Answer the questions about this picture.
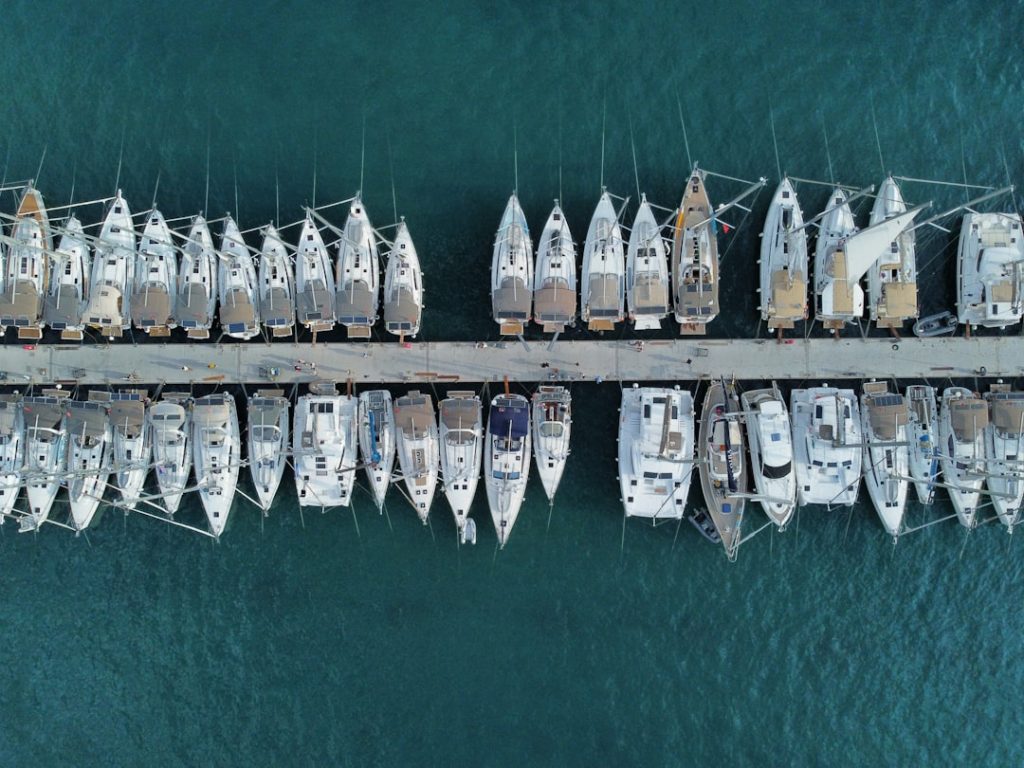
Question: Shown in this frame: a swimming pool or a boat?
boat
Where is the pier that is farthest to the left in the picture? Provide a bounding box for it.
[0,343,49,386]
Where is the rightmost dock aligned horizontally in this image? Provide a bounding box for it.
[808,336,1002,380]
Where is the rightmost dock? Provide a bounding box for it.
[1000,336,1024,378]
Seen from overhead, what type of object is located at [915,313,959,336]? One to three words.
boat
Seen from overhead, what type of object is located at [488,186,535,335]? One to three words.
boat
